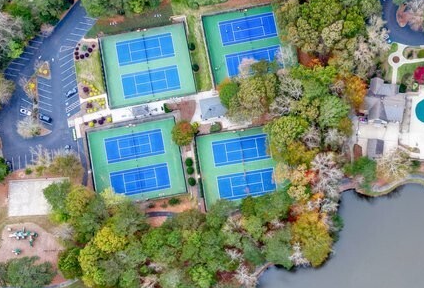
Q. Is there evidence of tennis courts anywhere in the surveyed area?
Yes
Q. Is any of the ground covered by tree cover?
Yes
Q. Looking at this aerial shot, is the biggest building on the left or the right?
right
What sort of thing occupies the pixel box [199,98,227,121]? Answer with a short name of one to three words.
building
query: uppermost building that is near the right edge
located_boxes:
[366,76,407,126]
